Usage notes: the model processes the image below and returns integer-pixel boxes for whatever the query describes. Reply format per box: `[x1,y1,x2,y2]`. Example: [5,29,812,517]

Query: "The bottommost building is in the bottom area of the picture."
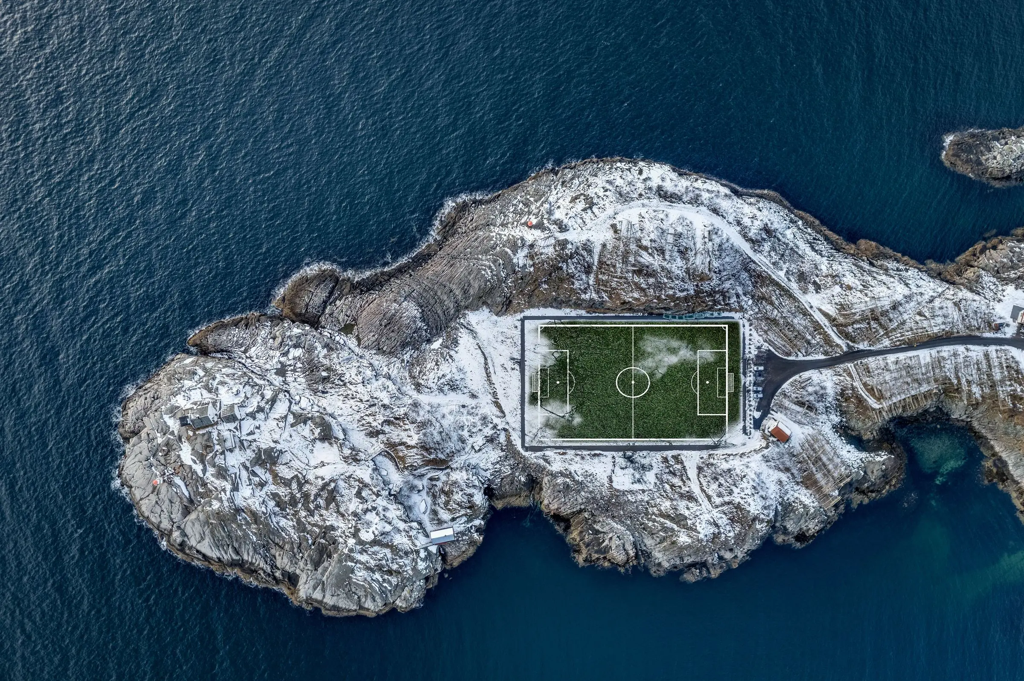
[429,526,456,544]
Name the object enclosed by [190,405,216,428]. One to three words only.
building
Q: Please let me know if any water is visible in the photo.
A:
Yes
